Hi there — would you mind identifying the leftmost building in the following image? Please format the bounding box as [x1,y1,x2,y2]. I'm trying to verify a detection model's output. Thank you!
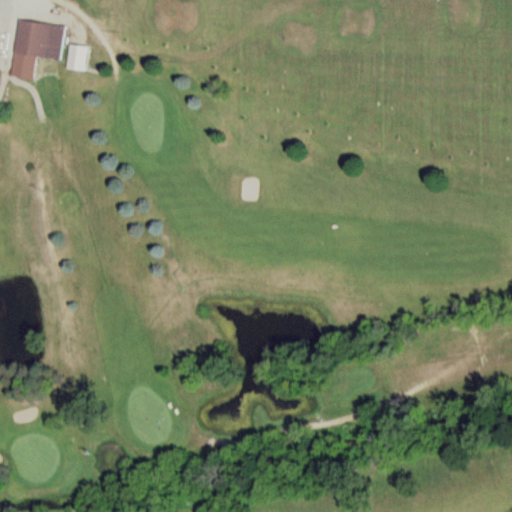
[11,18,68,78]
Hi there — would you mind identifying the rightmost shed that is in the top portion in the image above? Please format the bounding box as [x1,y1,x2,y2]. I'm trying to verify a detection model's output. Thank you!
[66,44,90,72]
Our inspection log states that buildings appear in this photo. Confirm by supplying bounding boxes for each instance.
[11,18,68,78]
[66,44,90,72]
